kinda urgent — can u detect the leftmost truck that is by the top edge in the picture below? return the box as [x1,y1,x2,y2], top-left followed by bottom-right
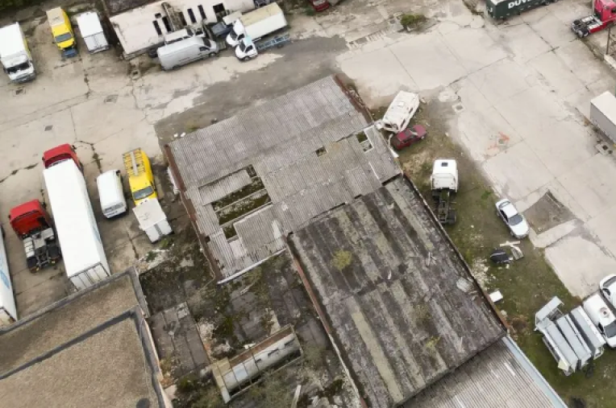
[0,19,40,85]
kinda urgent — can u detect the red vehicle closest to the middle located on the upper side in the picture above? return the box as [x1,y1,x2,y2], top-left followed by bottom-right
[387,126,430,151]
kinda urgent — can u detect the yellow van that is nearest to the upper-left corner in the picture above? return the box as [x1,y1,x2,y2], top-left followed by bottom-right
[45,7,77,49]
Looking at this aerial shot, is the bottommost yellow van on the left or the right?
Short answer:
left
